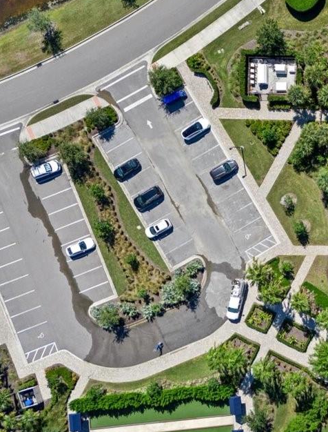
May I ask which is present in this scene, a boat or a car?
car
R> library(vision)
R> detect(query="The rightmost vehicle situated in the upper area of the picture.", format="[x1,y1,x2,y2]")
[206,161,238,182]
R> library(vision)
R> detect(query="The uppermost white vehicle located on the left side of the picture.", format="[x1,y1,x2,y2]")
[28,161,60,180]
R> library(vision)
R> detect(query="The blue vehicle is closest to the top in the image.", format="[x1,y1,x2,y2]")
[157,88,186,107]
